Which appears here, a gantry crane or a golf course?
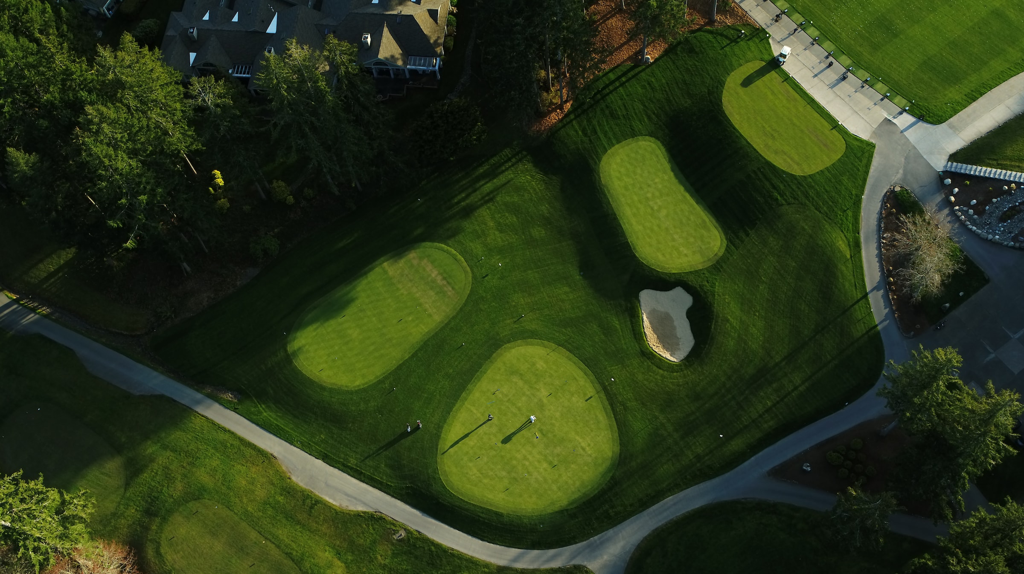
golf course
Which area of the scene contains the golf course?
center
